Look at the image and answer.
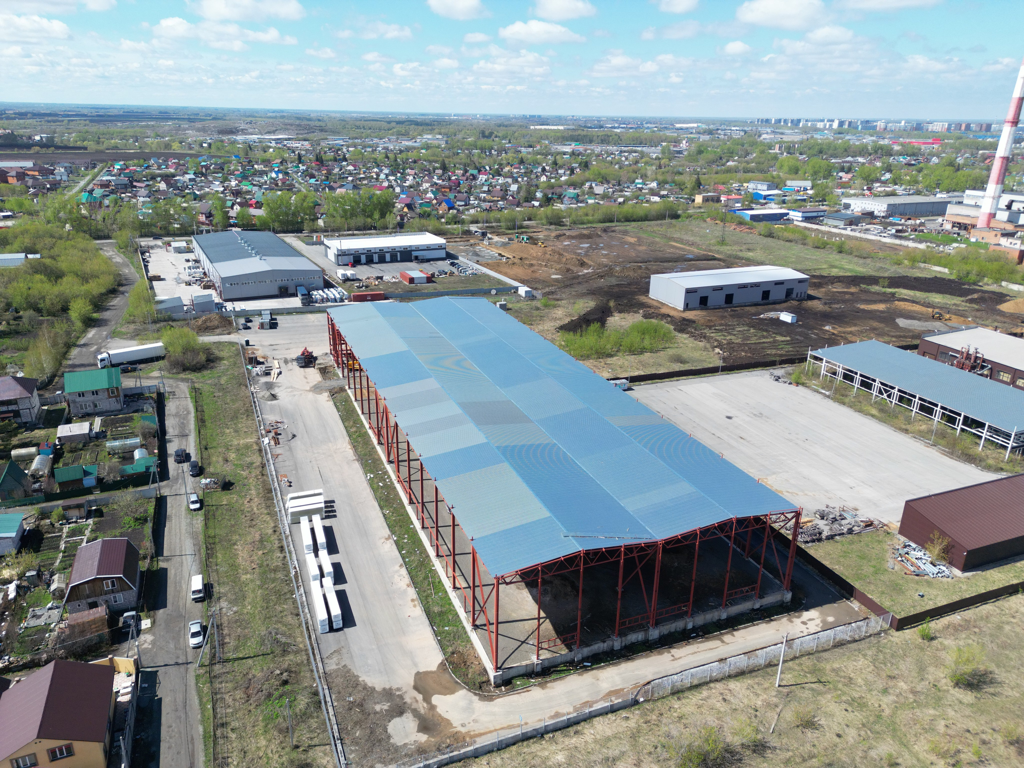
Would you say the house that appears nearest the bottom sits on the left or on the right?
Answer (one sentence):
The house that appears nearest the bottom appears in the left half of the scene.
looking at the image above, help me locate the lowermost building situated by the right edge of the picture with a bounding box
[894,467,1024,577]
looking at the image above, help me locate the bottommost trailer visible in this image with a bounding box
[139,669,165,708]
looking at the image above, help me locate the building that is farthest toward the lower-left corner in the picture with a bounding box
[0,642,113,768]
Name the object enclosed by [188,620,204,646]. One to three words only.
car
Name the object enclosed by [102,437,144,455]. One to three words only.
greenhouse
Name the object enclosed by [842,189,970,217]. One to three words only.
hangar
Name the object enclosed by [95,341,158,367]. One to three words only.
truck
